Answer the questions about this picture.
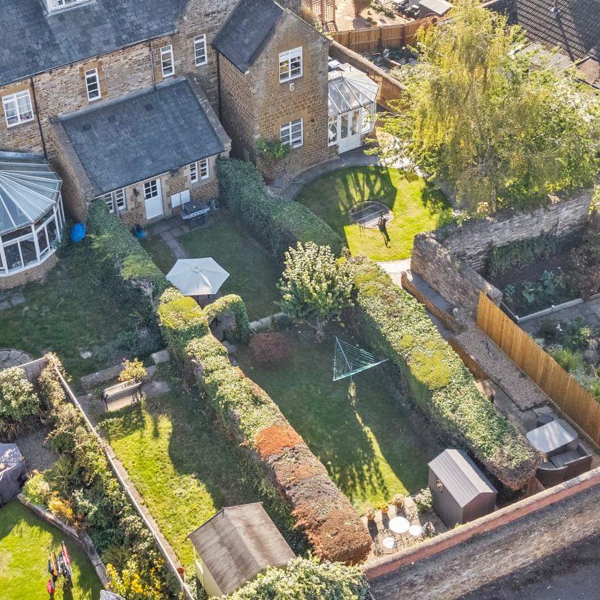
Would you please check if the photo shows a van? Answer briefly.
No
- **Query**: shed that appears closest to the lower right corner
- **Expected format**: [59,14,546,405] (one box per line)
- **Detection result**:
[422,447,498,530]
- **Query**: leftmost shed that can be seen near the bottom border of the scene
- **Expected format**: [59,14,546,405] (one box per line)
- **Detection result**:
[182,504,297,600]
